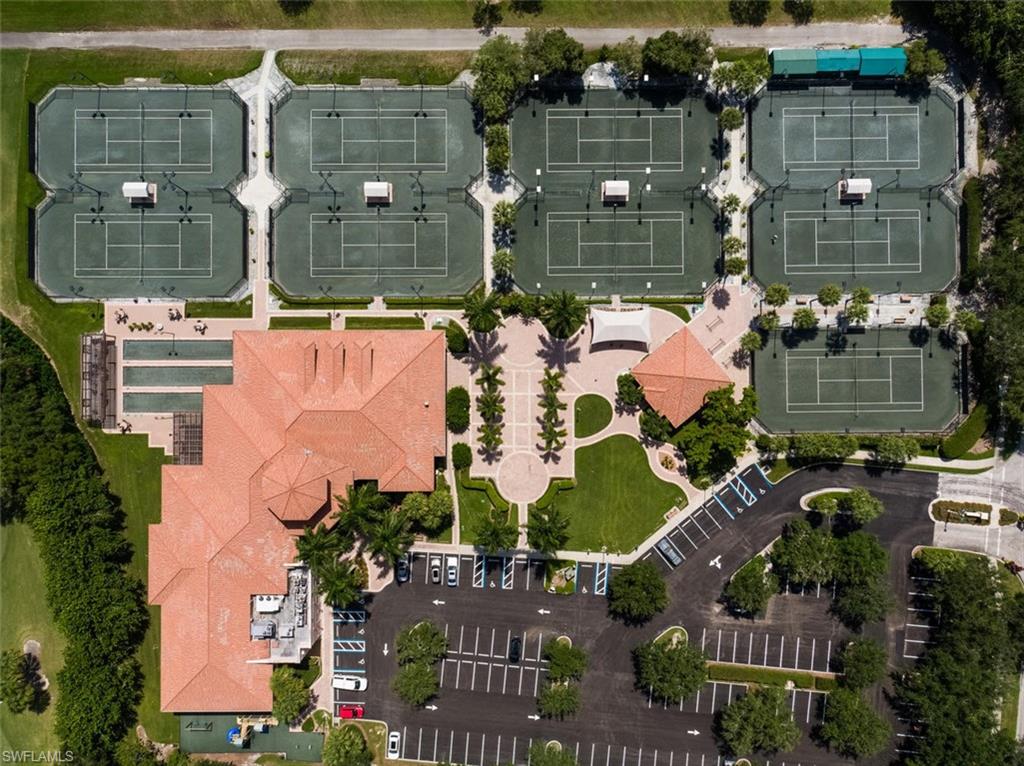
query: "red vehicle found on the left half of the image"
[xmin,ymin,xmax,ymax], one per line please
[339,705,365,720]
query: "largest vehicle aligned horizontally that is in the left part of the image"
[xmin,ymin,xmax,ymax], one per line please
[332,675,367,691]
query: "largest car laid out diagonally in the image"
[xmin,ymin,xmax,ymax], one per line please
[656,537,682,565]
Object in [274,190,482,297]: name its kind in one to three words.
tennis court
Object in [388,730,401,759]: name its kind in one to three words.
vehicle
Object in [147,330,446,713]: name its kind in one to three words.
building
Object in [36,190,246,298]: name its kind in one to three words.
tennis court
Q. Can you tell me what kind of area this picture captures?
sports ground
